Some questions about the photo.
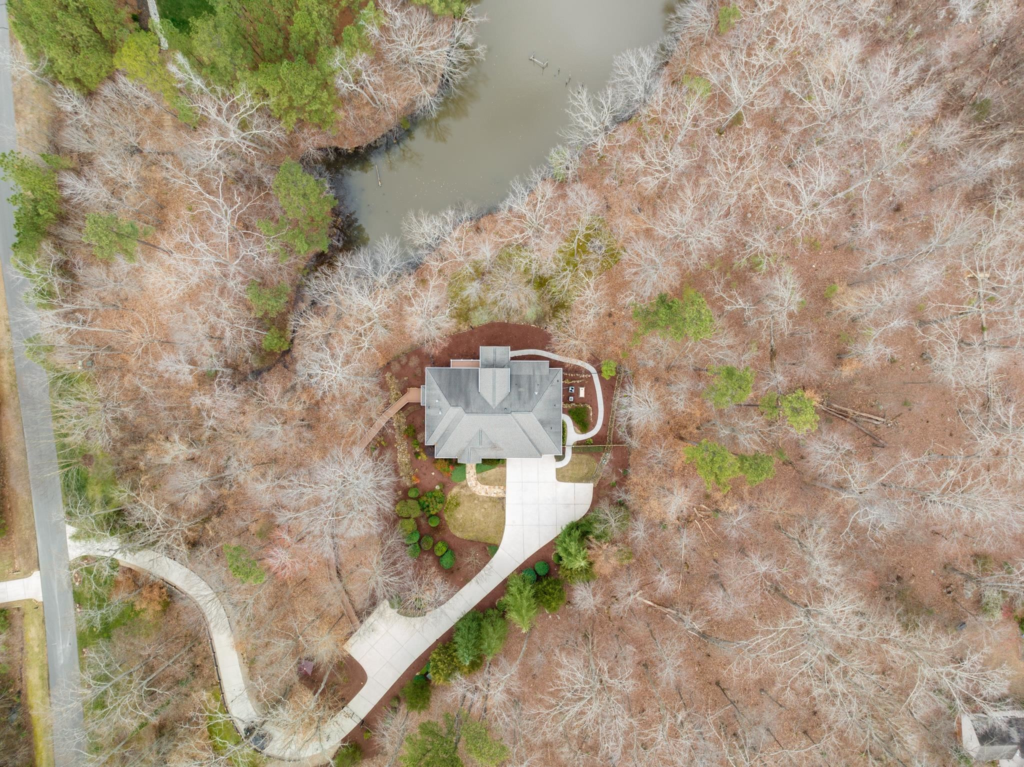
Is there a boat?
No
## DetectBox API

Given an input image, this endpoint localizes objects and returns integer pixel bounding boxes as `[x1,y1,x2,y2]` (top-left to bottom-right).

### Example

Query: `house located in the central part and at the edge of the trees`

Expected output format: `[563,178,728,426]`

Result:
[420,346,563,464]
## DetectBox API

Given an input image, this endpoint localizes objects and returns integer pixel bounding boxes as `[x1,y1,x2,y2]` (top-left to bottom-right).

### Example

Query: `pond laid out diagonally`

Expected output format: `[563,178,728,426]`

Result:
[302,0,682,288]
